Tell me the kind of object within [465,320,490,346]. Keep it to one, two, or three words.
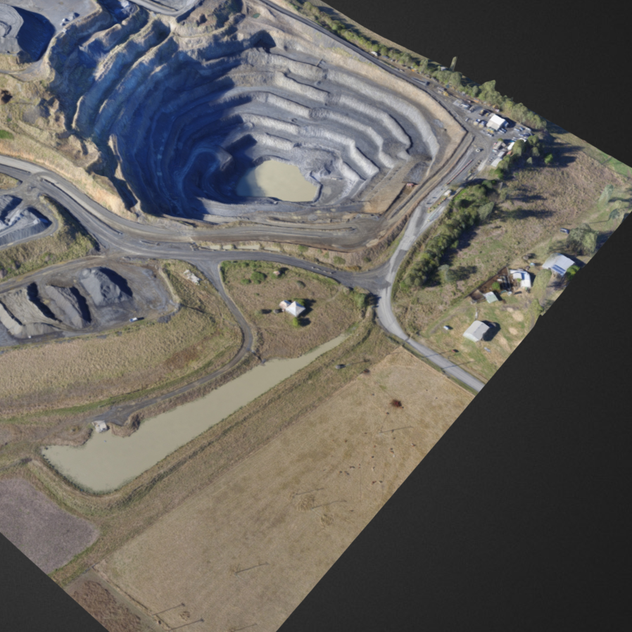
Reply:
shed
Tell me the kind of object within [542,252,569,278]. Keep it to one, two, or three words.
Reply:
house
